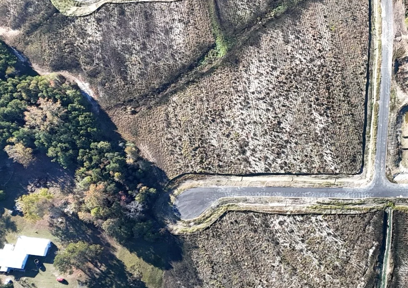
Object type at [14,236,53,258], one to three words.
house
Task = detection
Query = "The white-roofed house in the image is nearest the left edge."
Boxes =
[0,244,32,275]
